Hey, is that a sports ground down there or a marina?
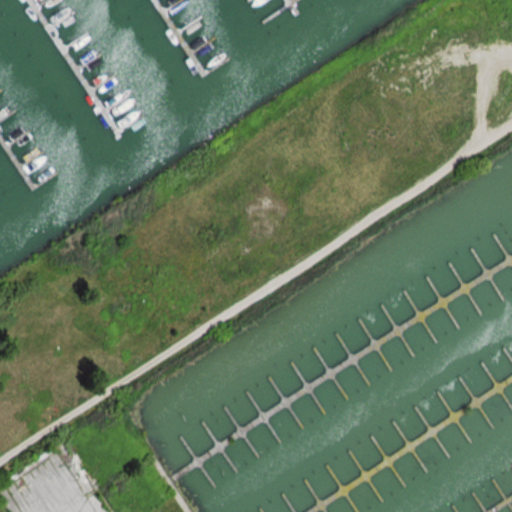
marina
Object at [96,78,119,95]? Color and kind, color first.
white boat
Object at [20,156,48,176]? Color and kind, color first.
white boat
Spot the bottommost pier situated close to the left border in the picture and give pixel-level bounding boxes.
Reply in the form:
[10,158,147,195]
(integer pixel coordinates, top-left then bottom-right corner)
[0,110,58,192]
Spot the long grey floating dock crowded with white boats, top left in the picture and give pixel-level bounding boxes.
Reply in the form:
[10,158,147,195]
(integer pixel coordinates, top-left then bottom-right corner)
[28,0,134,140]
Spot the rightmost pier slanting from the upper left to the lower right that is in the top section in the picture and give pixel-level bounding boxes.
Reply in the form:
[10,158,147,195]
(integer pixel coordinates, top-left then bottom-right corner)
[150,0,230,77]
